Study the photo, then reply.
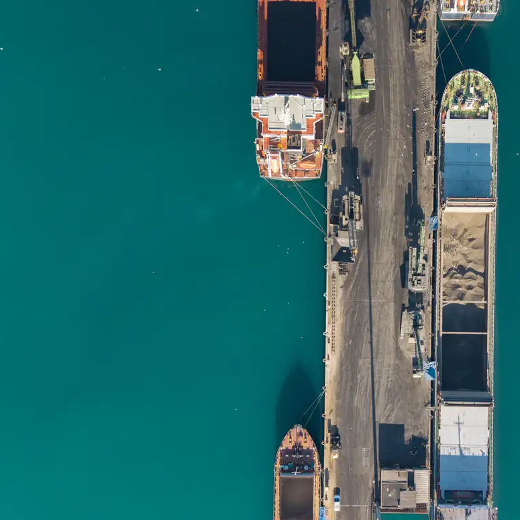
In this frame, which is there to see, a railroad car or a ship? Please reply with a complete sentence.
This aerial view contains a ship.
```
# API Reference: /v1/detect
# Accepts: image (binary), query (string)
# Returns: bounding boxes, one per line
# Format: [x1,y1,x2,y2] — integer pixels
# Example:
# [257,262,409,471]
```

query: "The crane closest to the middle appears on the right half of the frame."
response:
[340,192,363,262]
